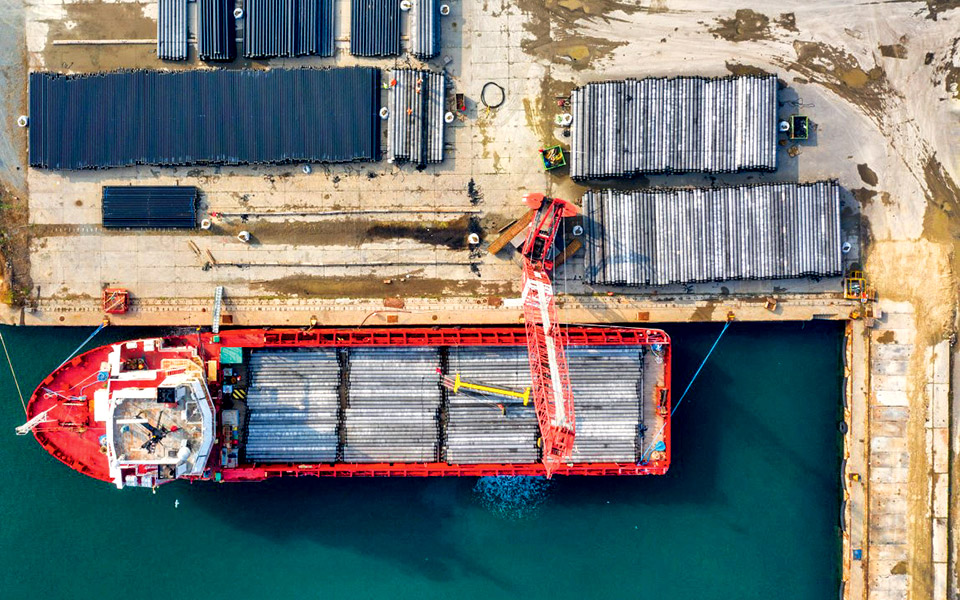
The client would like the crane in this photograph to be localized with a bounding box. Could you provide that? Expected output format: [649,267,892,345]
[495,195,581,479]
